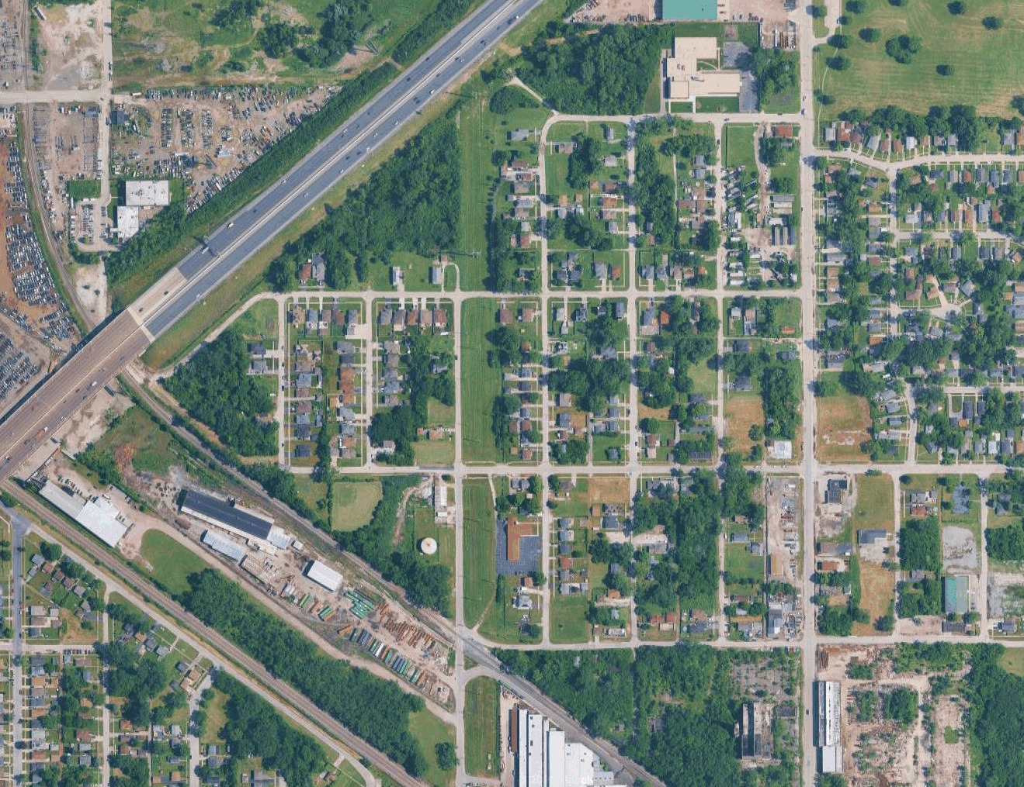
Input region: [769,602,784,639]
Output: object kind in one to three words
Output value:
shed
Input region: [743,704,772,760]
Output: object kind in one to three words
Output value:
building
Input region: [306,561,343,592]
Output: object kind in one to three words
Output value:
shed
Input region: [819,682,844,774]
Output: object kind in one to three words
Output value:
building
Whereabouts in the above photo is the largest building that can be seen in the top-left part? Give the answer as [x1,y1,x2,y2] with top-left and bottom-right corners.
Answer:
[110,180,169,240]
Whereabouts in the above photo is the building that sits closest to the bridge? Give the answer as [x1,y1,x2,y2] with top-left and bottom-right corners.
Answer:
[36,476,128,547]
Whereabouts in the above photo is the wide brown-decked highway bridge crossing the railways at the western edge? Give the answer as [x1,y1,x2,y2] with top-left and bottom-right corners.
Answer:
[0,309,155,486]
